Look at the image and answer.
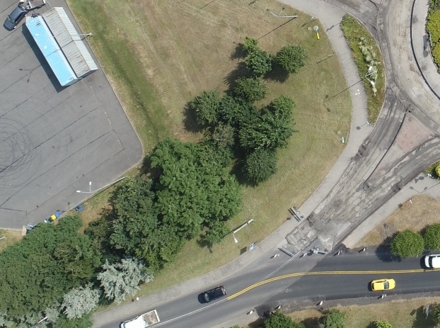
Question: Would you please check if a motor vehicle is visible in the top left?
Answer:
Yes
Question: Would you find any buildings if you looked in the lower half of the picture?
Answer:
No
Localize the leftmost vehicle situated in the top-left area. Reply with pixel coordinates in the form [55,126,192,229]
[6,3,27,30]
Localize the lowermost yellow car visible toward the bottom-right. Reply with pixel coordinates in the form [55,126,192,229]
[370,278,396,291]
